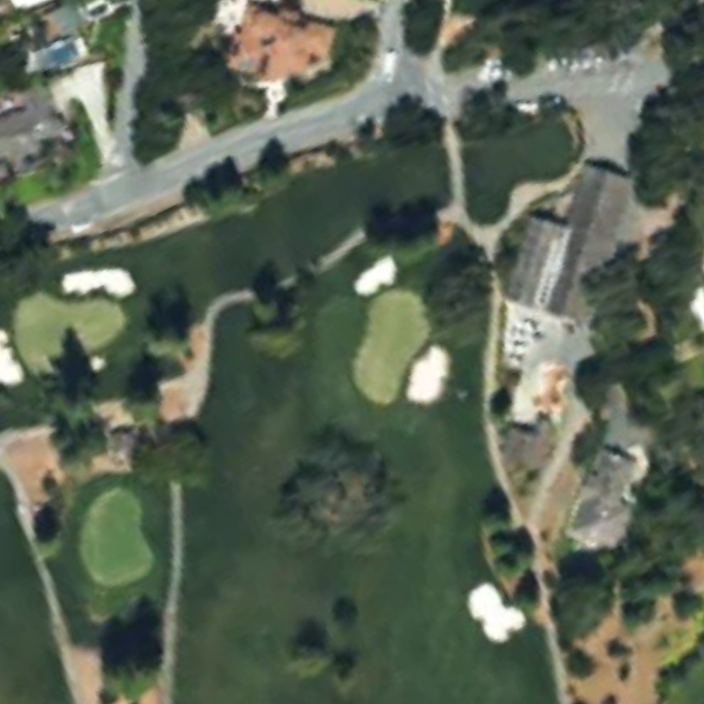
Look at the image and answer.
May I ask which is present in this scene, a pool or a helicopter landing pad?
pool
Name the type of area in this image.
golf course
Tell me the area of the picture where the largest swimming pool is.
top left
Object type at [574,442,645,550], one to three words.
house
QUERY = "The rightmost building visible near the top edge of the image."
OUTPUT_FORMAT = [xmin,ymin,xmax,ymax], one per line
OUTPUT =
[224,0,338,86]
